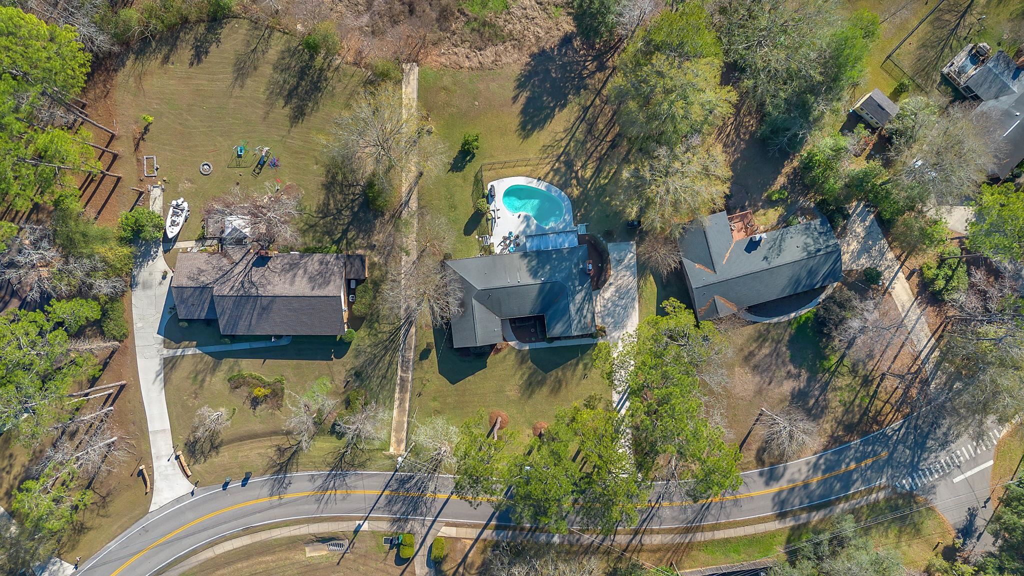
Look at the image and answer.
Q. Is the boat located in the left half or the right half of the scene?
left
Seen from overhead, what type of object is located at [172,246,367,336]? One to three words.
house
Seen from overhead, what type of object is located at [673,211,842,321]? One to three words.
house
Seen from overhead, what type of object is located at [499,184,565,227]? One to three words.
swimming pool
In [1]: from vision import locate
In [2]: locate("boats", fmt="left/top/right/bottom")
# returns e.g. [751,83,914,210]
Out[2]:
[165,197,188,238]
